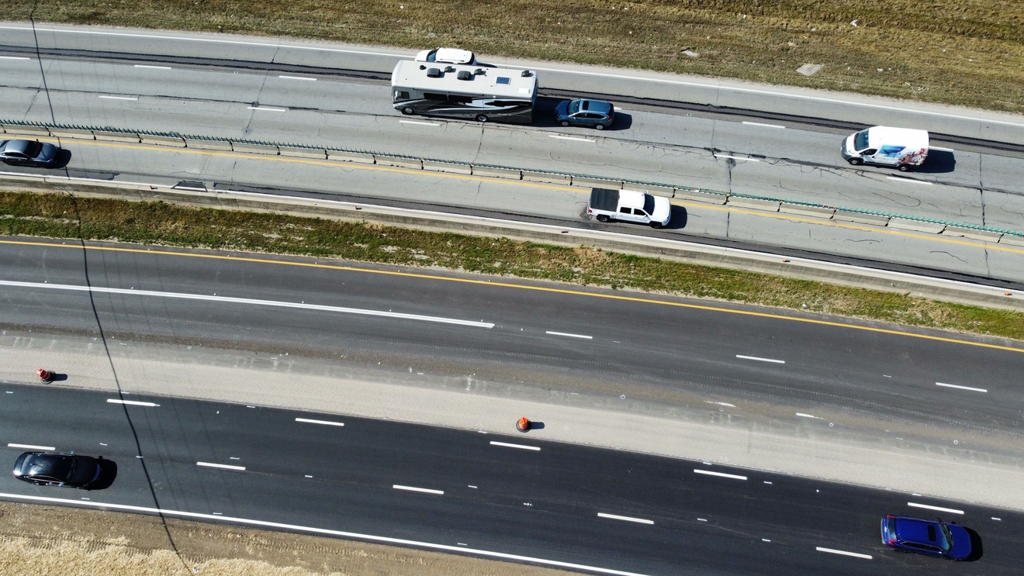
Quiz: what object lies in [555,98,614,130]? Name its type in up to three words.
car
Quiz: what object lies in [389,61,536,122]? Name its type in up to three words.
camper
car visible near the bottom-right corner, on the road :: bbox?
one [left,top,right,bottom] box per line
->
[878,512,975,561]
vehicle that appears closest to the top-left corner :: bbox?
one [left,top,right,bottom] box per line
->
[0,139,61,168]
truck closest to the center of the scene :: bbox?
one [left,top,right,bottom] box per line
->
[587,188,674,227]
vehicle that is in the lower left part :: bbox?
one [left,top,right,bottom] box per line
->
[13,450,103,489]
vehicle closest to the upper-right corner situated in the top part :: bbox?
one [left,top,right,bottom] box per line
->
[840,126,930,172]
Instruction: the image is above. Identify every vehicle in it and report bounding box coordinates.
[417,47,480,67]
[840,126,930,172]
[0,139,61,168]
[587,188,674,227]
[878,512,975,561]
[13,450,103,489]
[555,98,614,130]
[389,61,536,122]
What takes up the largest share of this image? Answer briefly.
paved ground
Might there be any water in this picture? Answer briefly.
No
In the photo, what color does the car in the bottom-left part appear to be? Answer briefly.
black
